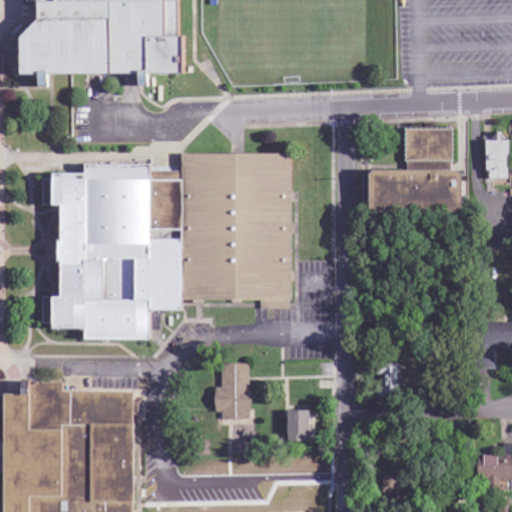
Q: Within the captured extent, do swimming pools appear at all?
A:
No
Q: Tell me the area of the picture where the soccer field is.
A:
top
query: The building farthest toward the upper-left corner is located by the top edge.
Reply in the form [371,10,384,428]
[19,0,187,74]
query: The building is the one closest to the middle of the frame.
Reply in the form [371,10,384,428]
[183,153,294,306]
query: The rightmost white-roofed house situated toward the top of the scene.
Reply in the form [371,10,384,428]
[484,130,510,179]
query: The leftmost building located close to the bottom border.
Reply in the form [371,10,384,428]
[4,380,134,512]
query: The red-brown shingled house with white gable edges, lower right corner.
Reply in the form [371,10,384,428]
[478,444,512,490]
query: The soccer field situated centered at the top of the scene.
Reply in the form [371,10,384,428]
[219,0,366,84]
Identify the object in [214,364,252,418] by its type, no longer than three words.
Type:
house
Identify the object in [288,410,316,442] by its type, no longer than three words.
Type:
house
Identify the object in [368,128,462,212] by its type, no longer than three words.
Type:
building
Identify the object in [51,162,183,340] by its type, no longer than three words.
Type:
building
